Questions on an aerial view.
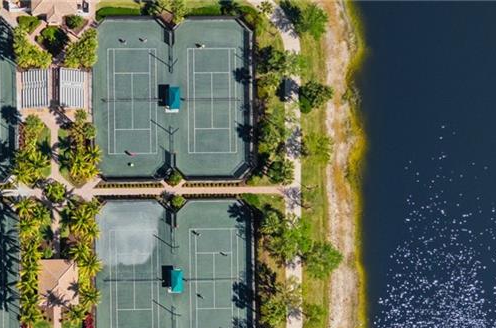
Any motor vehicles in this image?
No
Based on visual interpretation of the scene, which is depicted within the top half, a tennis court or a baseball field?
tennis court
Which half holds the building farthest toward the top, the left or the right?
left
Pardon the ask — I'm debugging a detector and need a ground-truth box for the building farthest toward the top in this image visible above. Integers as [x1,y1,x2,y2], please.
[32,0,77,29]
